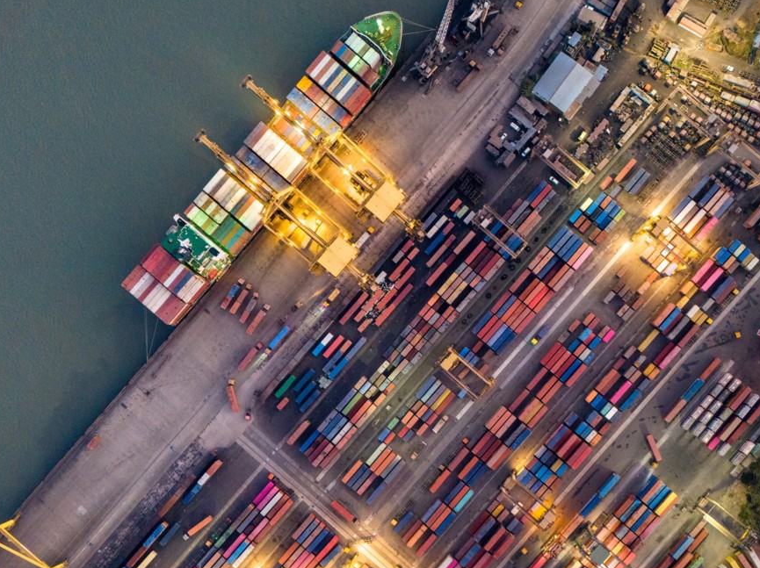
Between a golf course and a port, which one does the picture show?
port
